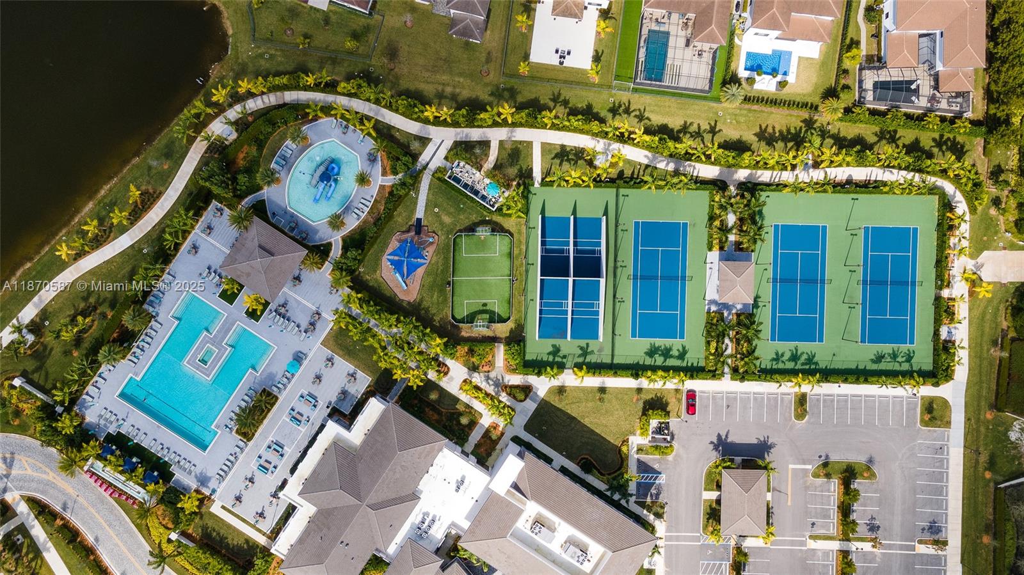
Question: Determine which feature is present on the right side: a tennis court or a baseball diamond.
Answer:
tennis court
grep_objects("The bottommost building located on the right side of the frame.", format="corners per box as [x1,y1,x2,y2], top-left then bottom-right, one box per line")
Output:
[718,468,767,536]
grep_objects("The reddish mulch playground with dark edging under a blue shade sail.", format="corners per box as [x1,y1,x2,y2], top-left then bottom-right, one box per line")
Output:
[381,225,439,302]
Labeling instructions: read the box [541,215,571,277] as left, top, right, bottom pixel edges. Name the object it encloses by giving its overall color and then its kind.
blue sports court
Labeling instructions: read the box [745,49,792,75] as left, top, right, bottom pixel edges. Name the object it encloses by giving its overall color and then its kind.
blue swimming pool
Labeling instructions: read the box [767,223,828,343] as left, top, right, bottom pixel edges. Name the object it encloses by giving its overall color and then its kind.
blue tennis court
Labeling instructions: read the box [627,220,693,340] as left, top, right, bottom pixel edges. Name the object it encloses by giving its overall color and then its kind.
blue tennis court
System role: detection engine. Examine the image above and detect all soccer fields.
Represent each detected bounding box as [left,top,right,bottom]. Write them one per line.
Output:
[450,226,513,331]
